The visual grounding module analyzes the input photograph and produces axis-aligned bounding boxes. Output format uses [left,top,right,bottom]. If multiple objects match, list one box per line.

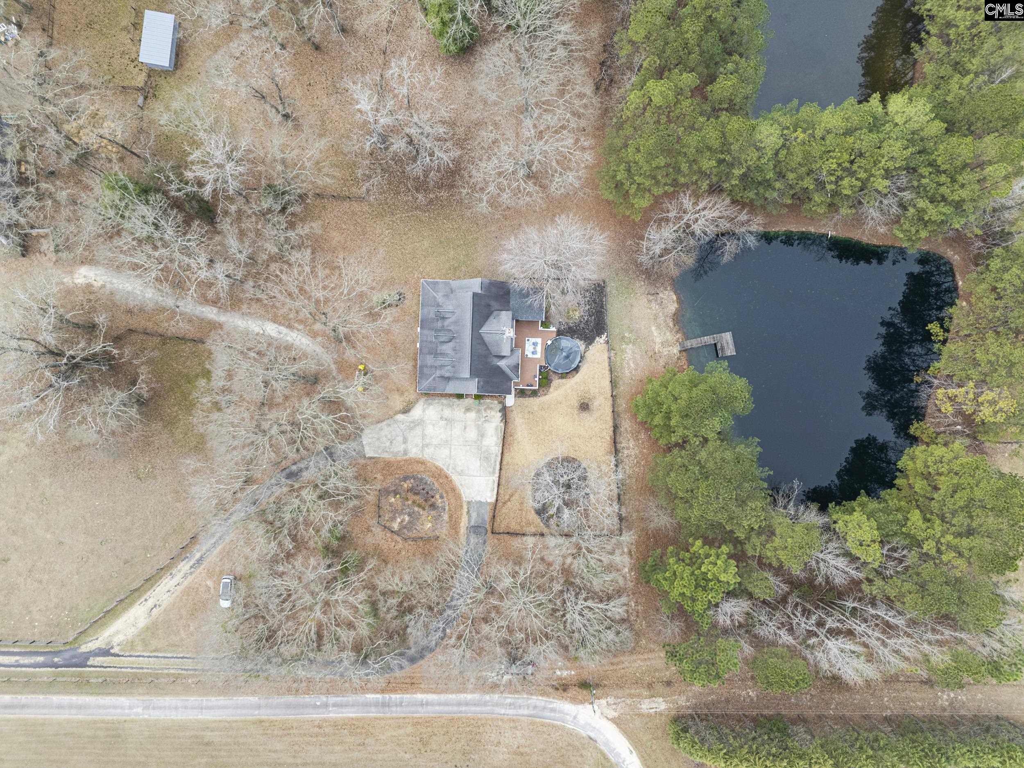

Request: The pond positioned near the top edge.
[745,0,939,122]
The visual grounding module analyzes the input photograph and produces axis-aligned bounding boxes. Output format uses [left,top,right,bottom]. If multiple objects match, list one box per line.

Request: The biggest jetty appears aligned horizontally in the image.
[680,332,736,357]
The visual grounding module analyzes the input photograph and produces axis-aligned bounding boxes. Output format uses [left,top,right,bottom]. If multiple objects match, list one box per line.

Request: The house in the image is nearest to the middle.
[417,278,546,399]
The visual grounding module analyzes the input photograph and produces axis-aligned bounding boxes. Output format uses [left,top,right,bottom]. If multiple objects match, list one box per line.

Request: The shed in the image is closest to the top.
[139,10,182,73]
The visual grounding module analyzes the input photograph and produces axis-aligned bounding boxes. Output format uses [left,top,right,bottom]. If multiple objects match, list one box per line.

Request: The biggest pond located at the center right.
[676,232,956,507]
